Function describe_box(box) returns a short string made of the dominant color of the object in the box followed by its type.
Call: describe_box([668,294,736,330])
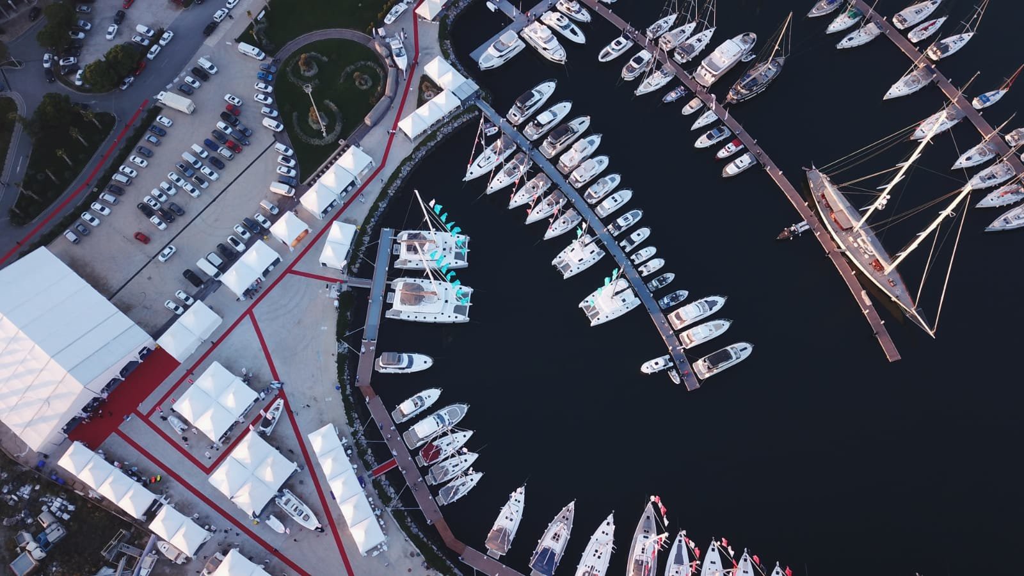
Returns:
white boat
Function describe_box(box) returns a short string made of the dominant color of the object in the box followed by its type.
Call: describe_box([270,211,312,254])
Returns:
white tent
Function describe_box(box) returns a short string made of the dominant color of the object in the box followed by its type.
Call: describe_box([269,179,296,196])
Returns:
white vehicle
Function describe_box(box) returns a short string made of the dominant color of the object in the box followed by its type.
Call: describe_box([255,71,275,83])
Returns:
blue vehicle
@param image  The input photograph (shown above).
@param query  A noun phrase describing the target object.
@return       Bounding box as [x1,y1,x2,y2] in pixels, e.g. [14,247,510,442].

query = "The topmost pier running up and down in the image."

[363,228,395,341]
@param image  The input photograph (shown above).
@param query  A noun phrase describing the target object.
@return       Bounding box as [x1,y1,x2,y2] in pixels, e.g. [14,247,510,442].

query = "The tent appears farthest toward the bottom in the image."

[207,549,274,576]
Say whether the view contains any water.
Yes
